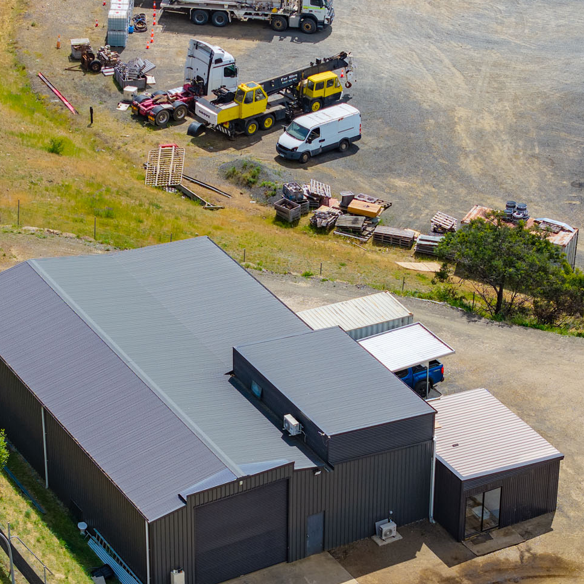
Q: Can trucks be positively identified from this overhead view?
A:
Yes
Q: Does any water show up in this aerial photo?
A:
No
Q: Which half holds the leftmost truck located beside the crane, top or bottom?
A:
top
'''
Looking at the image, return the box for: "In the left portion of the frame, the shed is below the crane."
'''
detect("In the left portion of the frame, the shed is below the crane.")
[0,238,440,584]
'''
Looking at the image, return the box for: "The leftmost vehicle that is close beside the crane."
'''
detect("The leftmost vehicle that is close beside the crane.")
[126,36,238,126]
